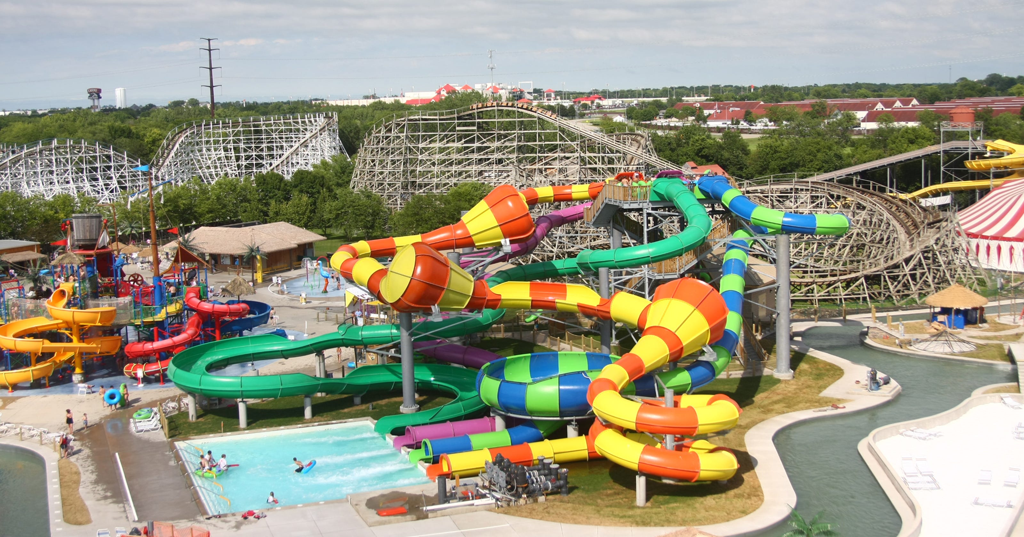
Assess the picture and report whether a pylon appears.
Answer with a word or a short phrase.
Yes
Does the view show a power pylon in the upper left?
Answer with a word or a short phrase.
Yes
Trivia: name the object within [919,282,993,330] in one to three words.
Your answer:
shed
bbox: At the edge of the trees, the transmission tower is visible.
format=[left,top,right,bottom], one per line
[197,35,223,122]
